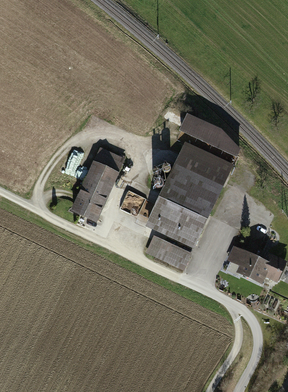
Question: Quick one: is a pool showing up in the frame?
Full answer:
No, I find no pool anywhere in the image.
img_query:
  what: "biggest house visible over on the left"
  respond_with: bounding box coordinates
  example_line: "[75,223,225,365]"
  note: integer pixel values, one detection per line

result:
[68,160,118,222]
